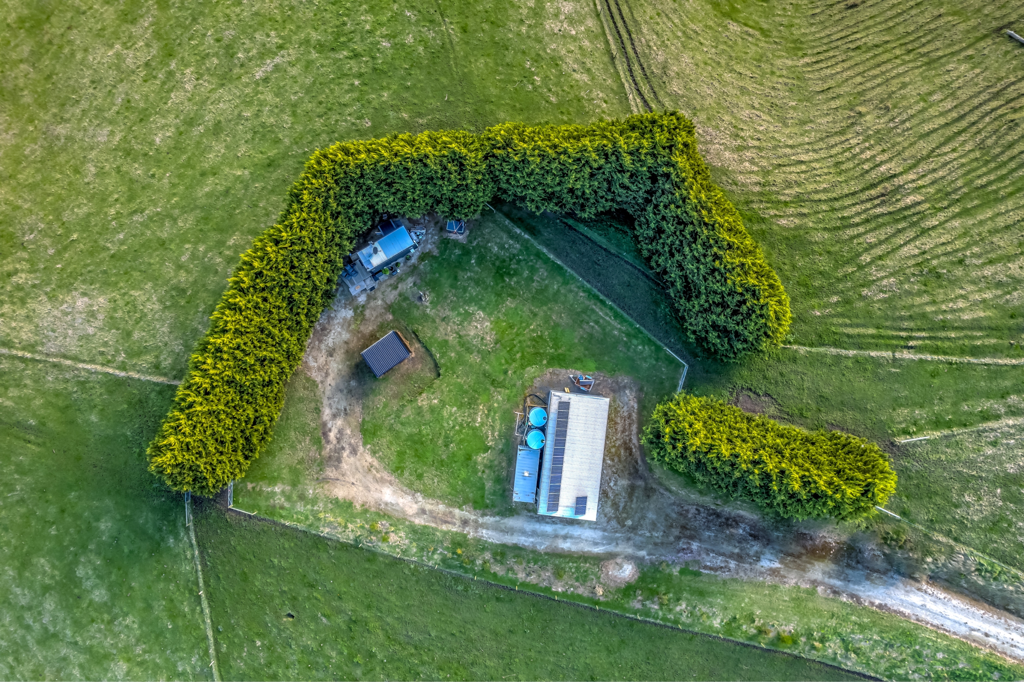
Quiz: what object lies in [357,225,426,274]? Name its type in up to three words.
house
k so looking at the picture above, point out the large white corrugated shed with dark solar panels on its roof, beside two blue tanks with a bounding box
[536,391,610,521]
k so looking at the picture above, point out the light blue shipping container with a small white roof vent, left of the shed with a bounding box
[512,444,541,504]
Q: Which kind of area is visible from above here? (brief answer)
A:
farmland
